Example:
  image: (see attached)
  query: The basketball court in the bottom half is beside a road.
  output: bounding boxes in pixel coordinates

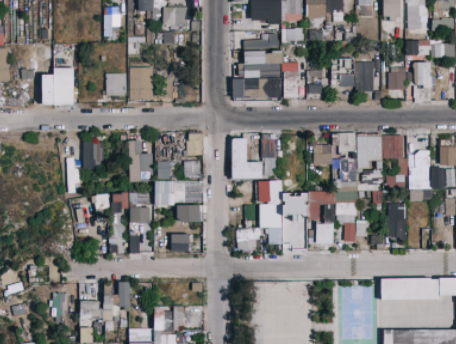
[338,286,377,344]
